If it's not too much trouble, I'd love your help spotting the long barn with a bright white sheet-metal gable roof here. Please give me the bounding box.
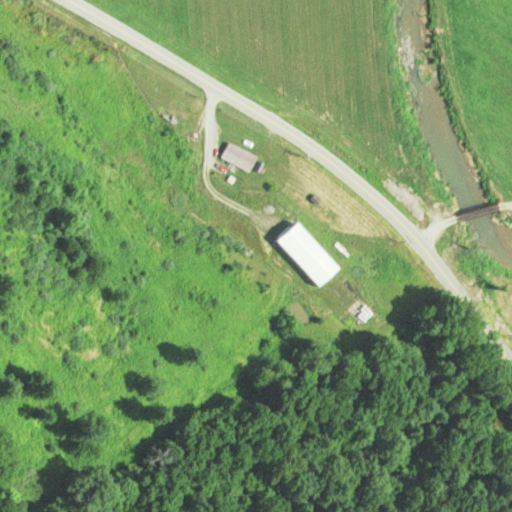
[277,222,340,287]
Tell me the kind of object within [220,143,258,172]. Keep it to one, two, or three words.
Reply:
house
